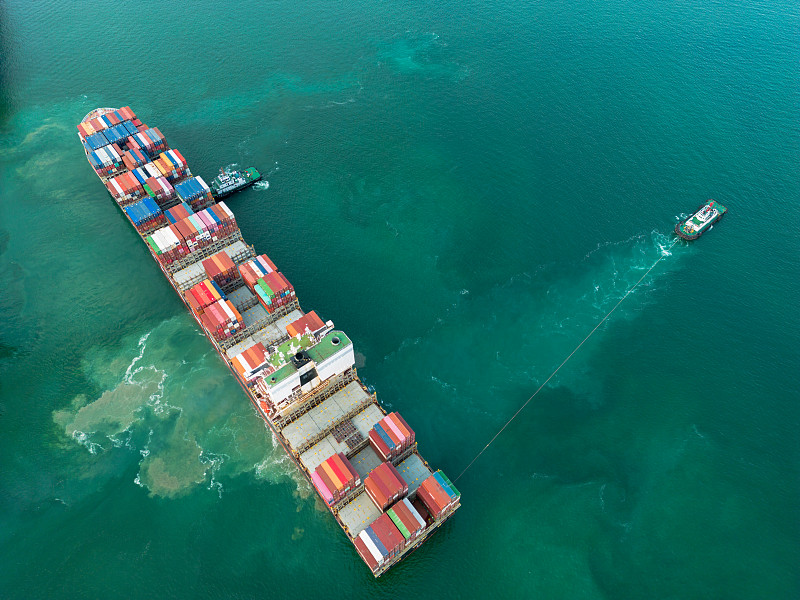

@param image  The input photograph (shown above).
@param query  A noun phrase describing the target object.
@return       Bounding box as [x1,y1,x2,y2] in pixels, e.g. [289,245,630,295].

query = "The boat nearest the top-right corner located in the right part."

[675,196,727,240]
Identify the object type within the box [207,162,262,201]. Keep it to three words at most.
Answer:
boat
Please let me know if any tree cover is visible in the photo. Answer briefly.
No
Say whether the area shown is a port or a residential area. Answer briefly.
port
